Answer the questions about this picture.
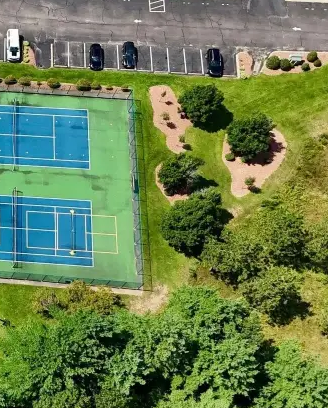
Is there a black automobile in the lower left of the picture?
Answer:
No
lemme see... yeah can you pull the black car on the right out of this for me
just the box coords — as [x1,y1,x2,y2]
[206,48,223,77]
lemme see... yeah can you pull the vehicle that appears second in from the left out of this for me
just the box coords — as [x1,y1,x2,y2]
[89,44,103,72]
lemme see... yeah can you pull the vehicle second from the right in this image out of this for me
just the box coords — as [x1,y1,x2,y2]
[121,41,137,69]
